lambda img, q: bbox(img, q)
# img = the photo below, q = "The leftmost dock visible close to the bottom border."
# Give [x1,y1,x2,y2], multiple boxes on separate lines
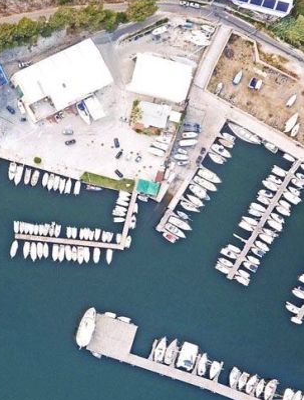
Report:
[87,313,275,400]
